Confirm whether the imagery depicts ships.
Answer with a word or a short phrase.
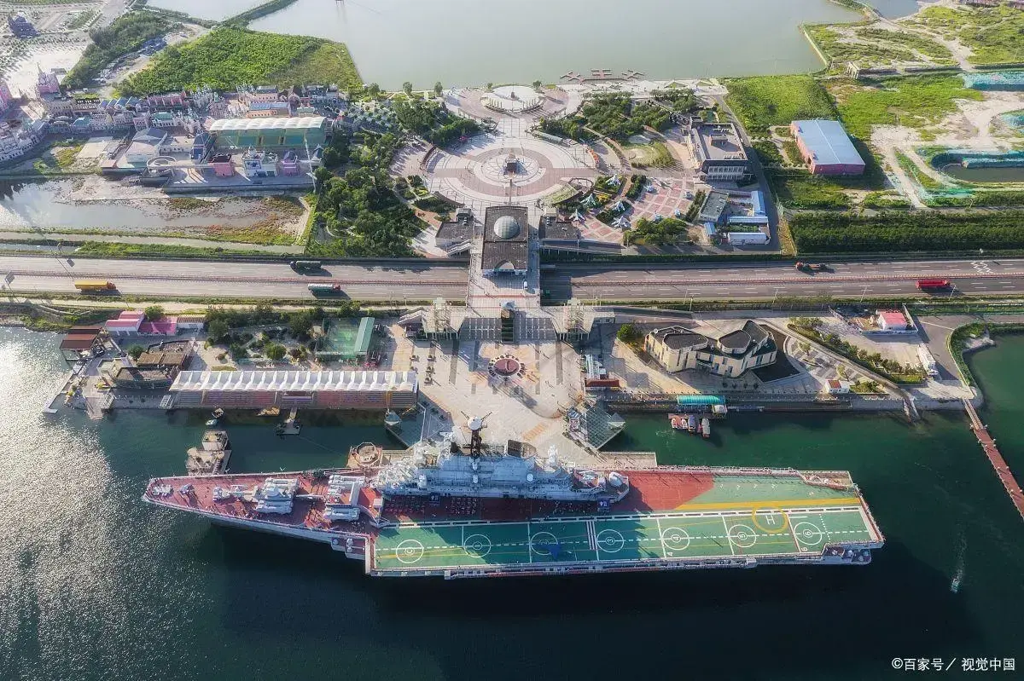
Yes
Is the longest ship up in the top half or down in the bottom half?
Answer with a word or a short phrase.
bottom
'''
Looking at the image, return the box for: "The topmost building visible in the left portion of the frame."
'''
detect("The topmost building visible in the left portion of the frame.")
[4,15,40,40]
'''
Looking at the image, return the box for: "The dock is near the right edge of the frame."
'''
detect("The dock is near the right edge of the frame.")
[961,399,1024,522]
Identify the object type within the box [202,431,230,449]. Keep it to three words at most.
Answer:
boat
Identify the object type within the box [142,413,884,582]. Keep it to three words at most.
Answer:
ship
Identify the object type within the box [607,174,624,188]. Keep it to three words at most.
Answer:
airplane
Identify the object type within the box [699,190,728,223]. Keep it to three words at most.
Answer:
building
